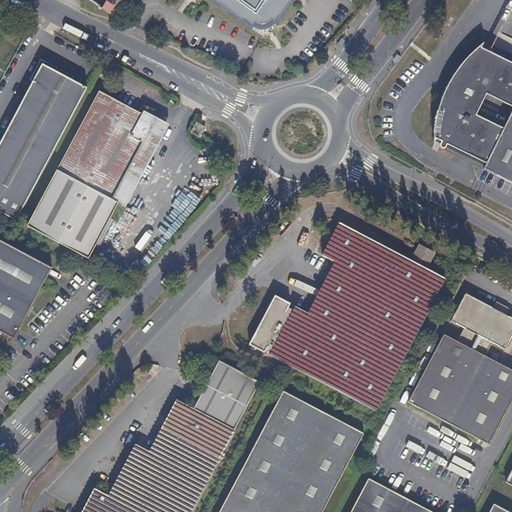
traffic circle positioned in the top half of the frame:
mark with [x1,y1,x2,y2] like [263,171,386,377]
[254,86,350,180]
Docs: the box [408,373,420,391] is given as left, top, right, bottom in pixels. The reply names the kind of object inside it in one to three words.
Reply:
vehicle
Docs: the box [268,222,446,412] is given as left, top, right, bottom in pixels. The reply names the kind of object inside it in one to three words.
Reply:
warehouse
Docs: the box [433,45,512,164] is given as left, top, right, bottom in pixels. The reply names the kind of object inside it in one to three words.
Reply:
building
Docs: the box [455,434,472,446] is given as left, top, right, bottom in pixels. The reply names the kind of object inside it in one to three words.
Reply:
vehicle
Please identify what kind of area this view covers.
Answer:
industrial area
